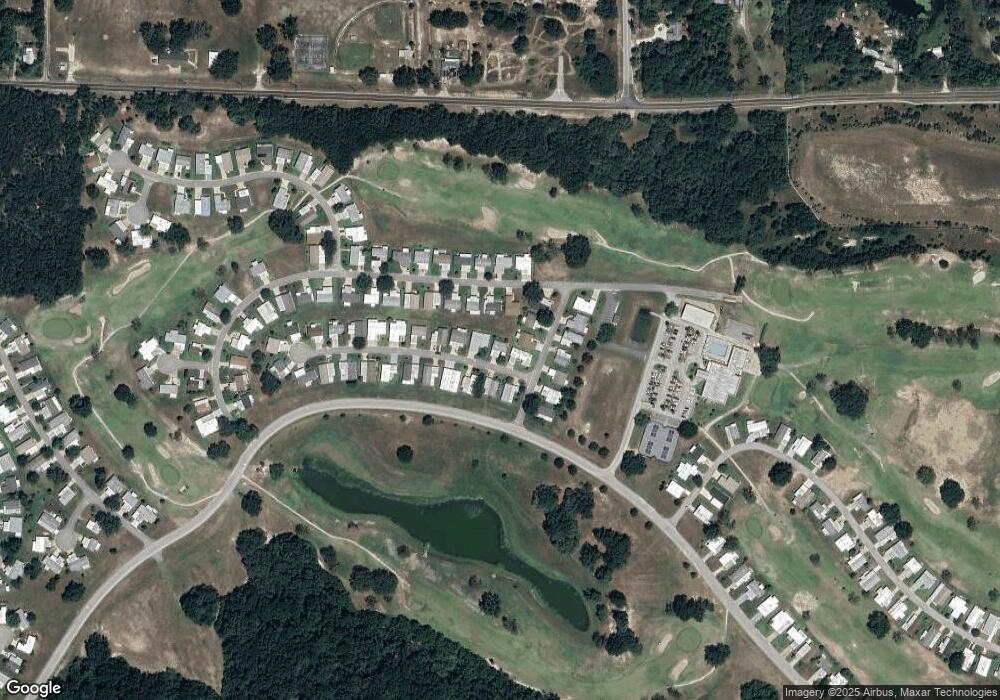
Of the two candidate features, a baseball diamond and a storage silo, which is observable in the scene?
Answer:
baseball diamond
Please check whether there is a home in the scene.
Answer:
Yes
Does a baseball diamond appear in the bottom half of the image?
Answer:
No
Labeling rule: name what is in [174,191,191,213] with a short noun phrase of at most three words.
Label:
house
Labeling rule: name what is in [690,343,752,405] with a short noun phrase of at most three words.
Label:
building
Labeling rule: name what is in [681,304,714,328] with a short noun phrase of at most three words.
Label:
building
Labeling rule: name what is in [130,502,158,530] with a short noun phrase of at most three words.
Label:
house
